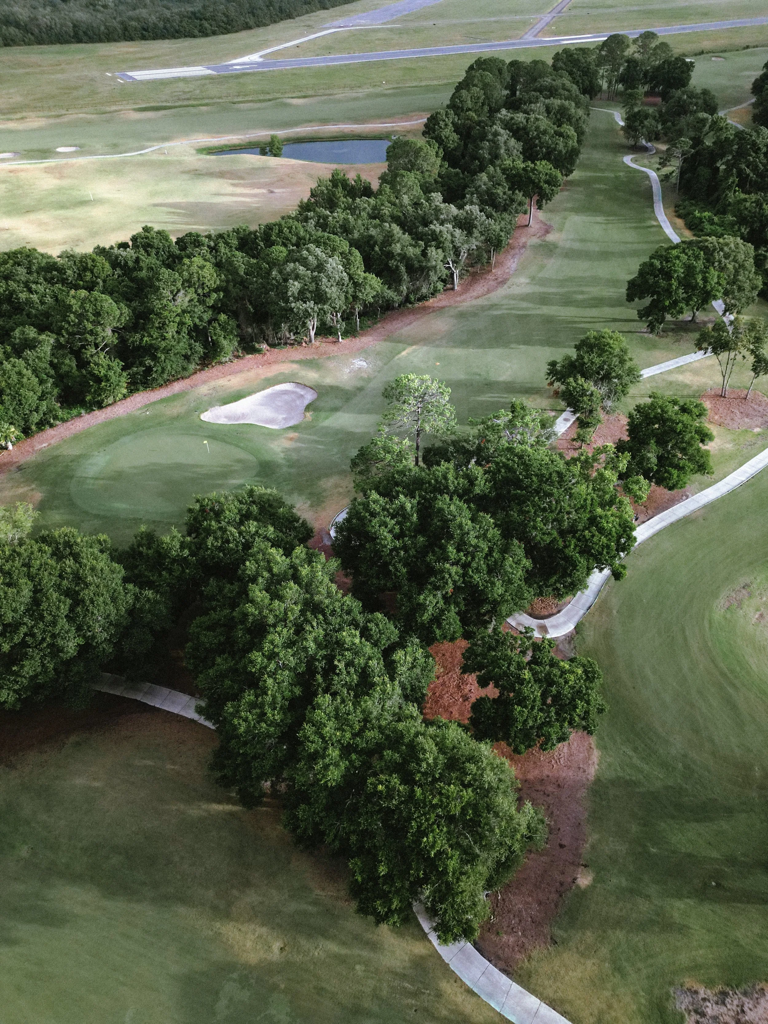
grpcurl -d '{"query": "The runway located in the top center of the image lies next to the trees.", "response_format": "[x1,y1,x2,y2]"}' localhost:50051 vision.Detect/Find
[116,19,768,81]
